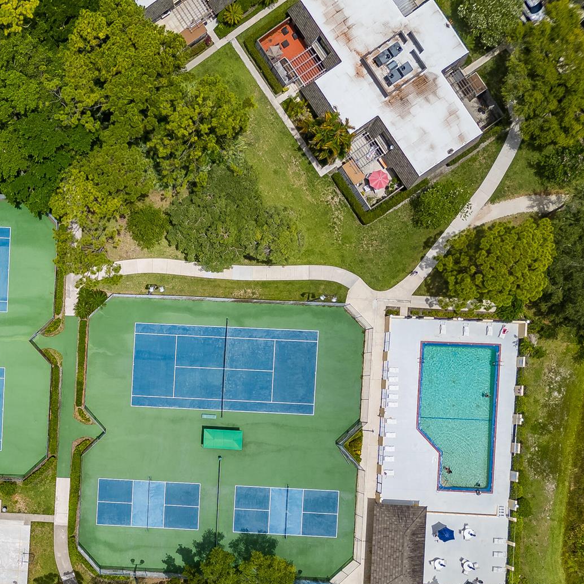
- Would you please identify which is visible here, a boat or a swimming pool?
swimming pool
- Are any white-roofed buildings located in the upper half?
Yes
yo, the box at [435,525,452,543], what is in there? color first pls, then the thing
blue umbrella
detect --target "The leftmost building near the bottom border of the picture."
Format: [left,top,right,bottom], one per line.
[367,498,427,584]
